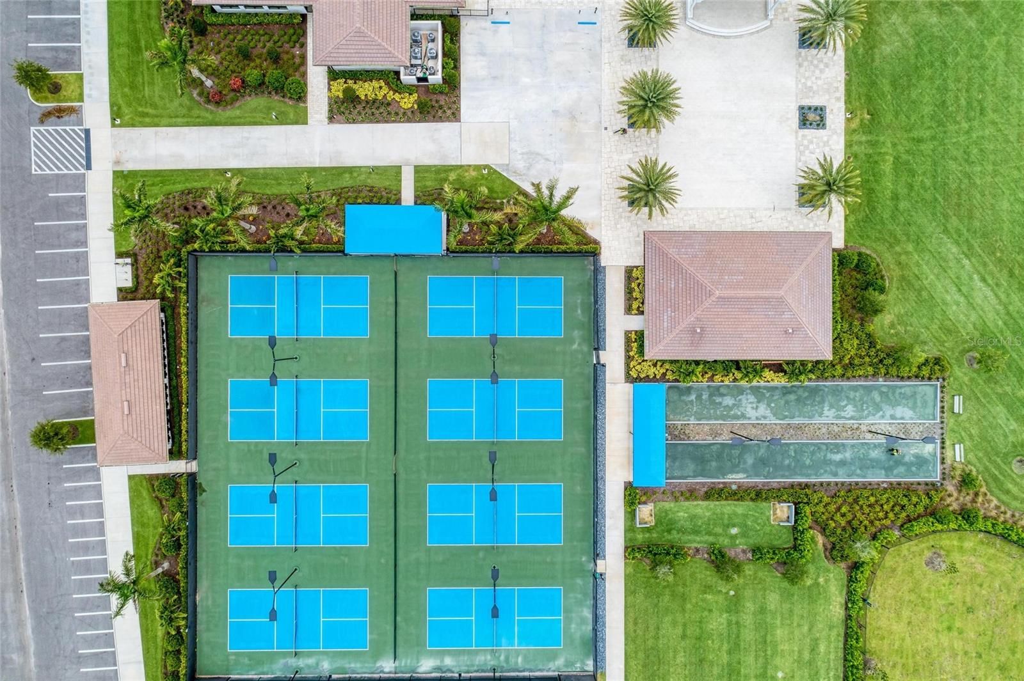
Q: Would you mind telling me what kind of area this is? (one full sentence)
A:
The area seen from above is a sports ground.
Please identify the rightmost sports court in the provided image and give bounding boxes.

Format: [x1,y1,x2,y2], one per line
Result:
[634,382,941,482]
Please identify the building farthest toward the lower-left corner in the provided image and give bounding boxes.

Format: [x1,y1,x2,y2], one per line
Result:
[88,299,175,468]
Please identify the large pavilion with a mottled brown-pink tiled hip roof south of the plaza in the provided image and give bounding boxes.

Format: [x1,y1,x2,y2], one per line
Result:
[643,231,834,363]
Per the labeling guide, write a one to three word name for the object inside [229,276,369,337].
sports court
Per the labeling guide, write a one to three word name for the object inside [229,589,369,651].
sports court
